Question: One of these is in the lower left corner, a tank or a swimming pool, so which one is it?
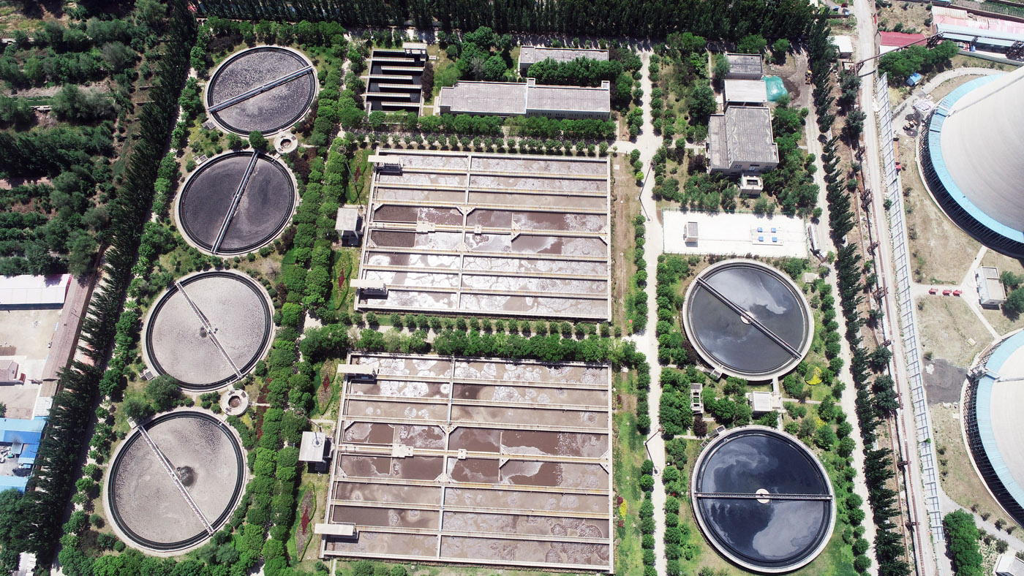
tank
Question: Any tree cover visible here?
Yes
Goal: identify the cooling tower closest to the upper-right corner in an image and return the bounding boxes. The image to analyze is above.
[918,66,1024,258]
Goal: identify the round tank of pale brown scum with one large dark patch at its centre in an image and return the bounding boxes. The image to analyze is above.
[101,405,251,557]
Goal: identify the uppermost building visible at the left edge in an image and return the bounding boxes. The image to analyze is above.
[0,274,77,309]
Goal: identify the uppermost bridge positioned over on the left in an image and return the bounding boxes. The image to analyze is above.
[207,65,314,113]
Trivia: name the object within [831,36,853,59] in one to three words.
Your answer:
shed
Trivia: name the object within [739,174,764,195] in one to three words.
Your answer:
building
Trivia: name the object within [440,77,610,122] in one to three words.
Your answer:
building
